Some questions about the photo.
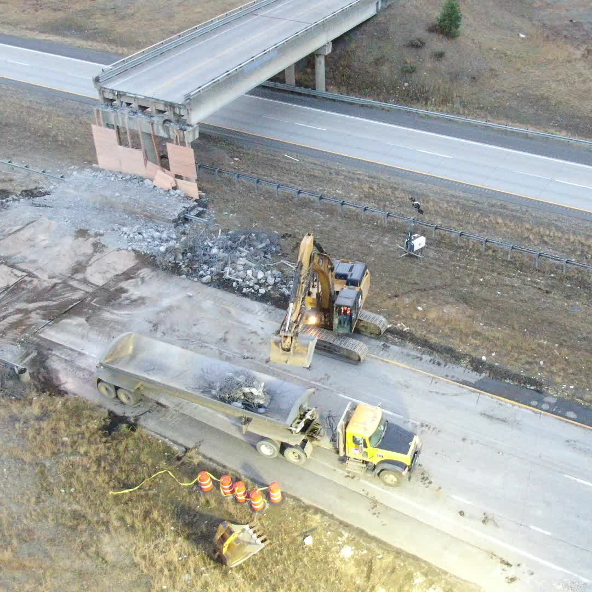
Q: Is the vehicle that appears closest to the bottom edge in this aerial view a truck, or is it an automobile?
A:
truck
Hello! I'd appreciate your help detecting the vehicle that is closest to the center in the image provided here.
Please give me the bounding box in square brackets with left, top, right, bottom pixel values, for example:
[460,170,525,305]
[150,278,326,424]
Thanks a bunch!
[270,231,384,372]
